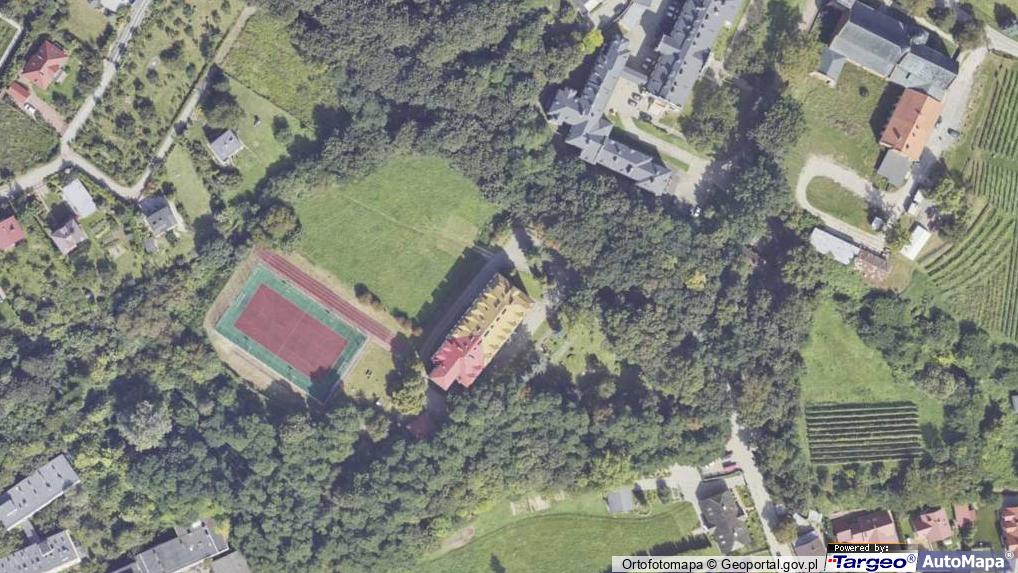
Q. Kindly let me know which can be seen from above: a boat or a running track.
running track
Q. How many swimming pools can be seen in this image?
zero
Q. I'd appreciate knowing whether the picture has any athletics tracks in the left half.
Yes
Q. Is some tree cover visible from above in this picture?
Yes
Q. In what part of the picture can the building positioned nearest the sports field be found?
center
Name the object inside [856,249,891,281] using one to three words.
shed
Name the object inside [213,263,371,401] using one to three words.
sports court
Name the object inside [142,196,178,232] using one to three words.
house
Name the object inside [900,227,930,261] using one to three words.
building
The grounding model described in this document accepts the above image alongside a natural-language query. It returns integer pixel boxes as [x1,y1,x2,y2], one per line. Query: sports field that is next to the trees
[297,152,495,322]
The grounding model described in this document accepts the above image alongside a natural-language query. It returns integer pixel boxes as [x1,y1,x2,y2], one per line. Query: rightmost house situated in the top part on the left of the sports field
[212,131,242,162]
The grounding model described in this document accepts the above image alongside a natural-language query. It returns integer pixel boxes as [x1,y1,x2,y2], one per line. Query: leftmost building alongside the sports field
[429,270,534,392]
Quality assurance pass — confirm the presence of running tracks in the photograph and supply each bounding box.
[255,249,399,350]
